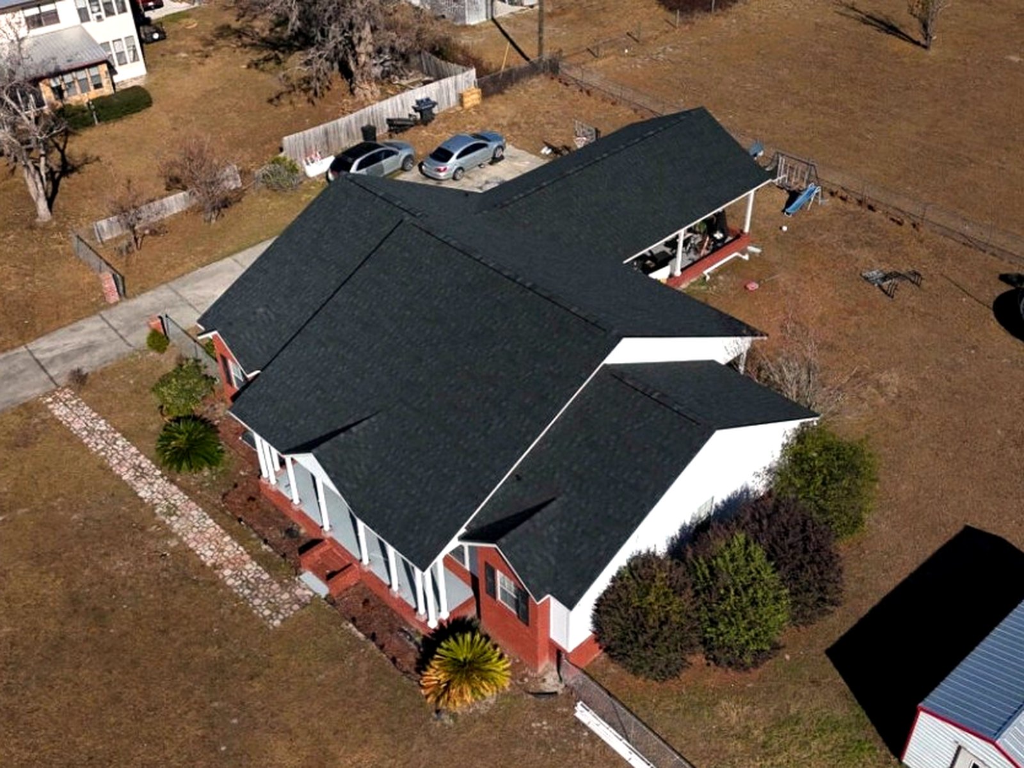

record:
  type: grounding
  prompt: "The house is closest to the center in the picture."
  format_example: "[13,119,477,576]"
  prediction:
[195,107,821,679]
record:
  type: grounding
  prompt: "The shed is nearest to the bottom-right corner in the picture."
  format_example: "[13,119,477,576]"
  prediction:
[903,590,1024,768]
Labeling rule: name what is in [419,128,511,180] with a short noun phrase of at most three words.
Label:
car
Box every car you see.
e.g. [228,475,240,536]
[419,128,511,180]
[319,136,418,185]
[130,0,167,9]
